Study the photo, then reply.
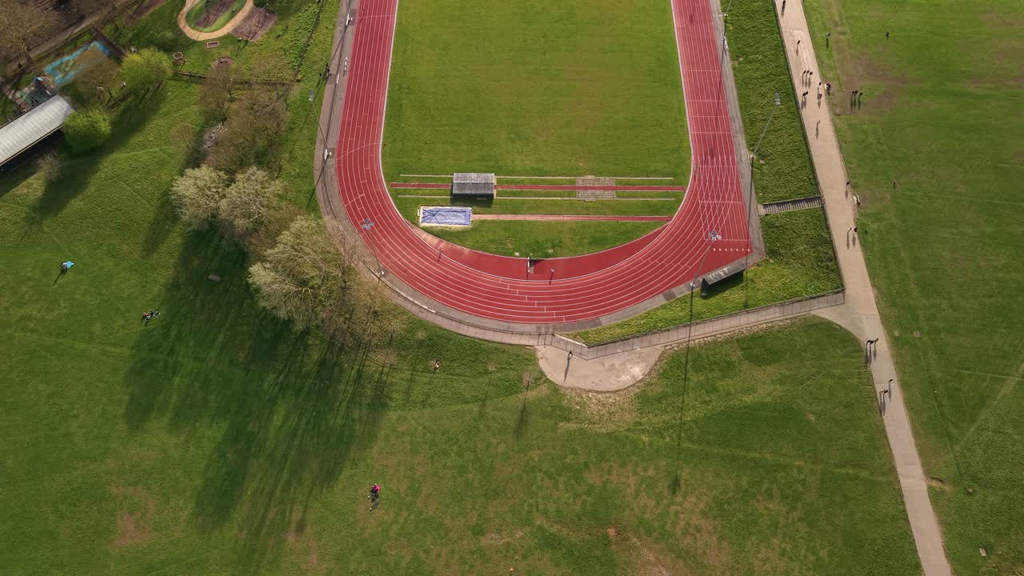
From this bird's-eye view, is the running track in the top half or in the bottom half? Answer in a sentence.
The running track is in the top half of the image.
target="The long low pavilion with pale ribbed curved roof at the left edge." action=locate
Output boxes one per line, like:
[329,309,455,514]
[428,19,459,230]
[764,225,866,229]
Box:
[0,94,74,178]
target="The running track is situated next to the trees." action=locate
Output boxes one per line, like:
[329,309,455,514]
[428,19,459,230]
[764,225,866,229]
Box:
[336,0,750,323]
